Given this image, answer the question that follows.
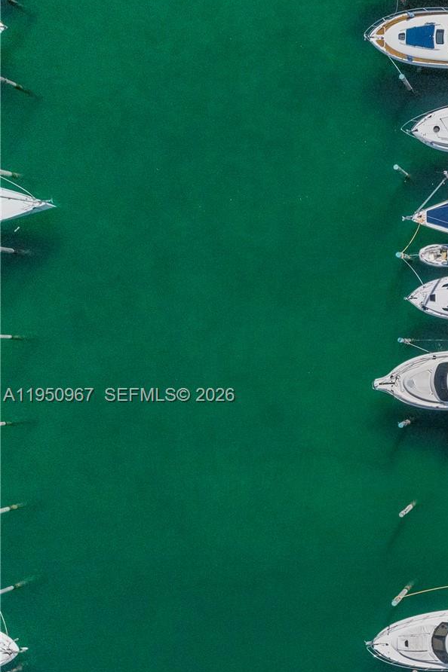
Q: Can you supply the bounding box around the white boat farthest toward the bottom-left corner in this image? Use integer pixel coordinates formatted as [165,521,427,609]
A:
[0,631,28,668]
